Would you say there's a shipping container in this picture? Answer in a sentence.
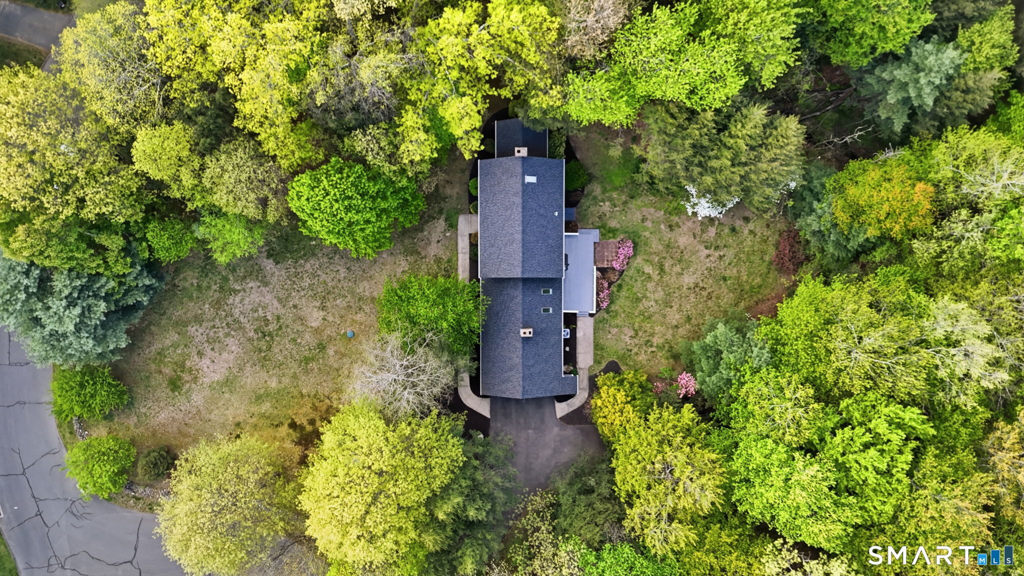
No, there appears to be no shipping container in this shot.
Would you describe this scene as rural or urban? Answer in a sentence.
From above, the setting appears rural.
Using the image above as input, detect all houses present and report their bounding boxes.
[477,118,579,399]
